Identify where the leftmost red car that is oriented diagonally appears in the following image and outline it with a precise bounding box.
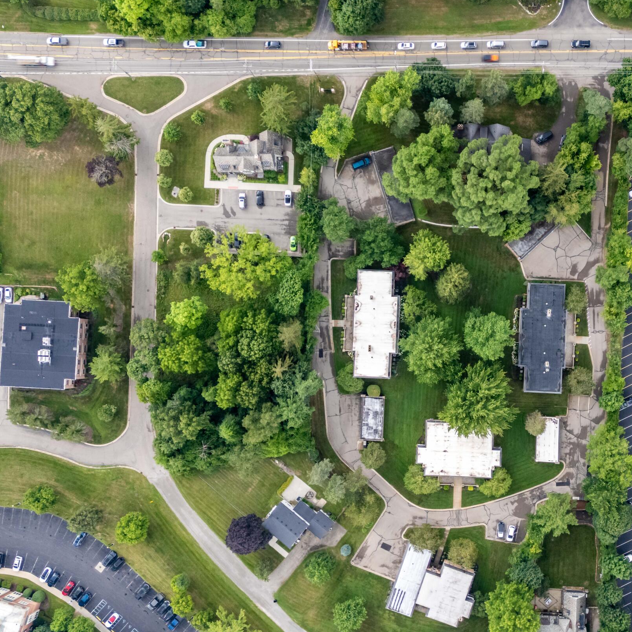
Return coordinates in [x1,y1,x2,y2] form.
[60,581,75,597]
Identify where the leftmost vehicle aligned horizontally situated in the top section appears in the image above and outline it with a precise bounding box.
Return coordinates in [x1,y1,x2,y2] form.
[0,50,55,65]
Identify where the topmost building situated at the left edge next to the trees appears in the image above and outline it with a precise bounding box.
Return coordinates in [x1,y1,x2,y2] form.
[0,300,89,390]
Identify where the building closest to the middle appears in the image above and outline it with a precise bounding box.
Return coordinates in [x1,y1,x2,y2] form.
[352,269,401,379]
